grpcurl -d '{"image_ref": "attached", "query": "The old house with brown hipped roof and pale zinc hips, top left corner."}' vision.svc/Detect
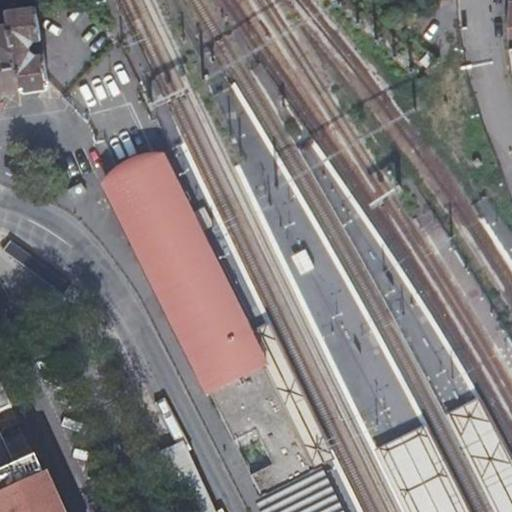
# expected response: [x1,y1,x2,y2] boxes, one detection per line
[0,5,48,97]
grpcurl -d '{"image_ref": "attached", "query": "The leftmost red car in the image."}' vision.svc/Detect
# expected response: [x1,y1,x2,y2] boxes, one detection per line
[89,148,102,168]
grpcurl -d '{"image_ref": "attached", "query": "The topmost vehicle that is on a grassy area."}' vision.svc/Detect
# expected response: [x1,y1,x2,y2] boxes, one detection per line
[422,20,440,41]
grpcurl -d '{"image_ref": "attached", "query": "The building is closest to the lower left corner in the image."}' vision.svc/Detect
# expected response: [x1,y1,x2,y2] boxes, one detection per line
[0,449,72,512]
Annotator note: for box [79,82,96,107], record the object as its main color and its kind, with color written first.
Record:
white vehicle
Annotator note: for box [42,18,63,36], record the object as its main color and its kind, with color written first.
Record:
white car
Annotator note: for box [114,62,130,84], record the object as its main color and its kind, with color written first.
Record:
white car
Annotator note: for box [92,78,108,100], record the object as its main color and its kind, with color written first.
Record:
white vehicle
